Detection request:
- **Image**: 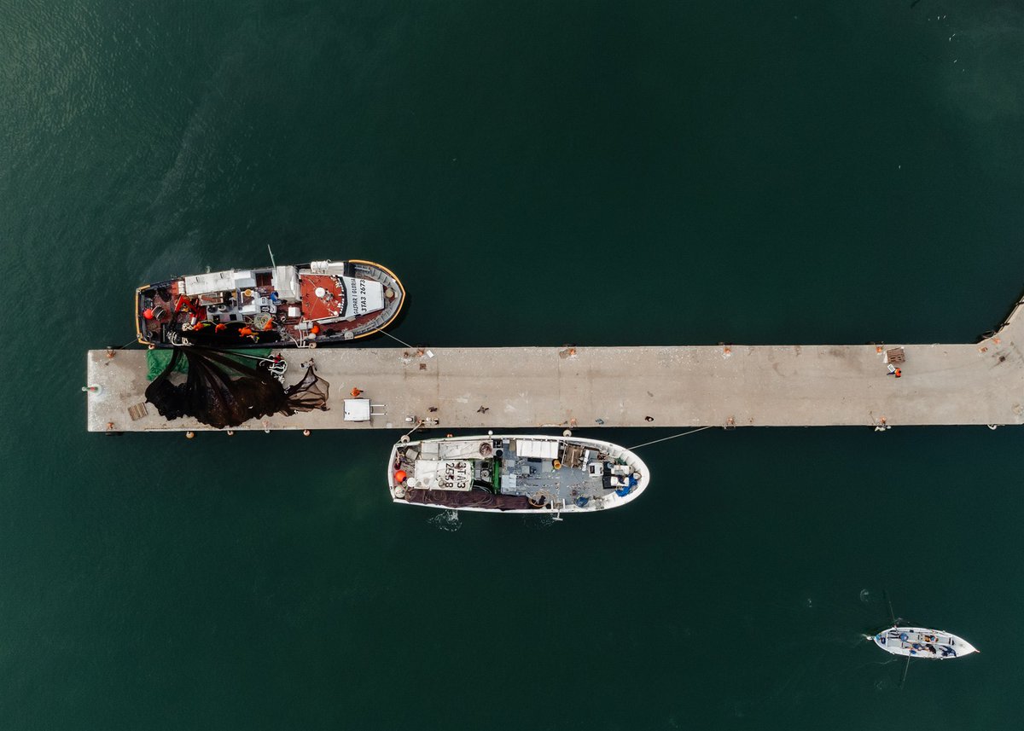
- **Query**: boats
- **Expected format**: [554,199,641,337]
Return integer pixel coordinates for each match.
[868,626,981,660]
[388,430,650,520]
[135,245,407,348]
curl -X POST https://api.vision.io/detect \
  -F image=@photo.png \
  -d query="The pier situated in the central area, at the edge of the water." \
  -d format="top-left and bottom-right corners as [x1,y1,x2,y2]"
[89,289,1024,431]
